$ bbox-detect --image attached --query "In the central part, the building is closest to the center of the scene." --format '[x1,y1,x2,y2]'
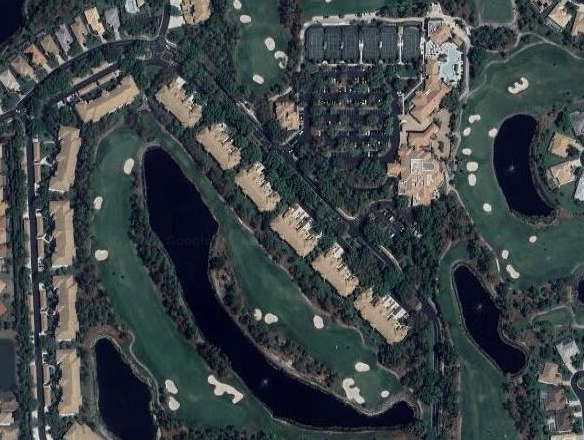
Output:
[271,206,322,257]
